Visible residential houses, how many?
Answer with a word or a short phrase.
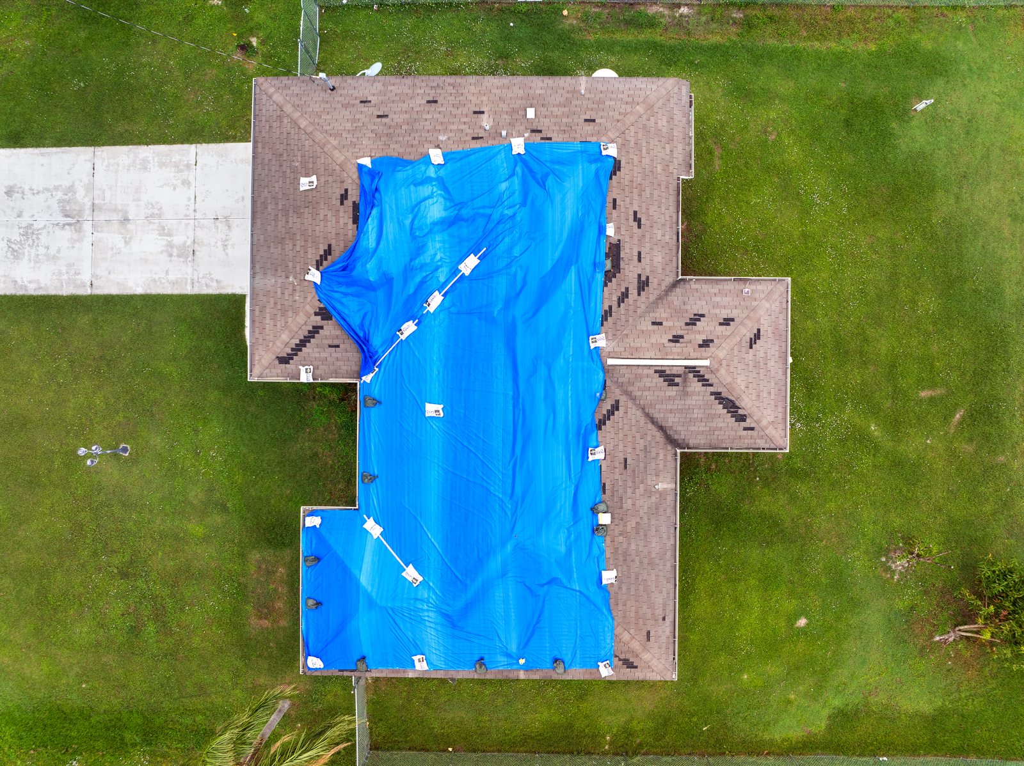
1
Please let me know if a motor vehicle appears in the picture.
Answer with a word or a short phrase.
No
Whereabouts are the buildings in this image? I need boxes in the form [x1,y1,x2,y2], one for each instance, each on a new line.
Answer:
[251,77,790,680]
